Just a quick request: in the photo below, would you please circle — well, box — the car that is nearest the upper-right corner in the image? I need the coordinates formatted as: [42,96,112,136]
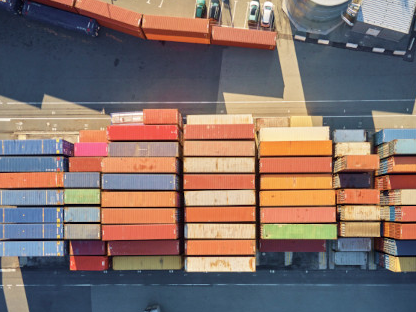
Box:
[261,2,274,28]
